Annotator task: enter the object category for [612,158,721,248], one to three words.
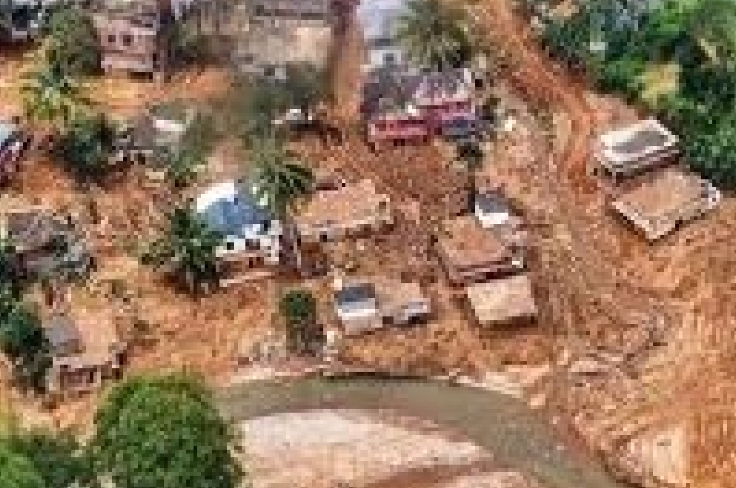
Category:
house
